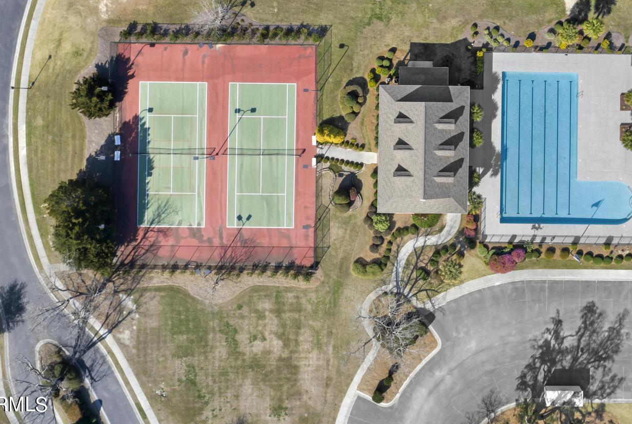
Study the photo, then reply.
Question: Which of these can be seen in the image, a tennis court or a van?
tennis court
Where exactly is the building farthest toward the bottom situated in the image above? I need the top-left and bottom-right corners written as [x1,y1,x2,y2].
[378,85,470,214]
